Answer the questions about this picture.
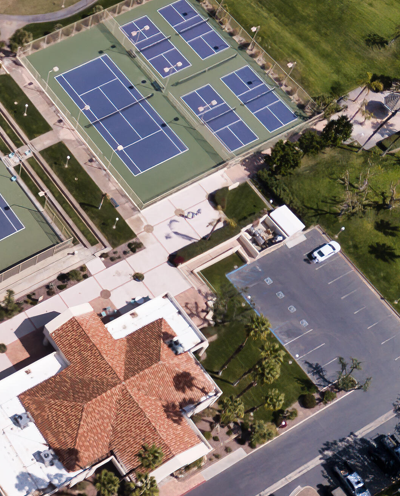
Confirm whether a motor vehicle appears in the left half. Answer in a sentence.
No, there's no motor vehicle to be seen in the left half.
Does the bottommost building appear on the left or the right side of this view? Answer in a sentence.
The bottommost building is on the left side of the image.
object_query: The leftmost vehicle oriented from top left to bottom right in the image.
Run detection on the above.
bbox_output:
[334,462,373,496]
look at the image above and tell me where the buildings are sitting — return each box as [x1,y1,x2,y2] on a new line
[269,205,307,247]
[0,280,223,496]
